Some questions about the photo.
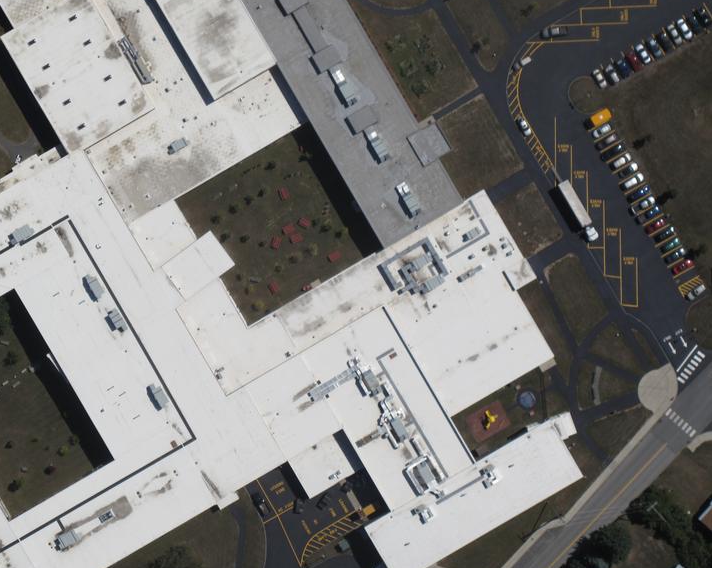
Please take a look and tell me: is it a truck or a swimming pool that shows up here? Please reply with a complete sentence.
Looking from above, you can make out a truck.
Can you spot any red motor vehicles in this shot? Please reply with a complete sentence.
Yes, a red motor vehicle is visible in the scene.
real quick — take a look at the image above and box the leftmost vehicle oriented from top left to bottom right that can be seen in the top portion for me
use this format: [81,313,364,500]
[517,116,533,137]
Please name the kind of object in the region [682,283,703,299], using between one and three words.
car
